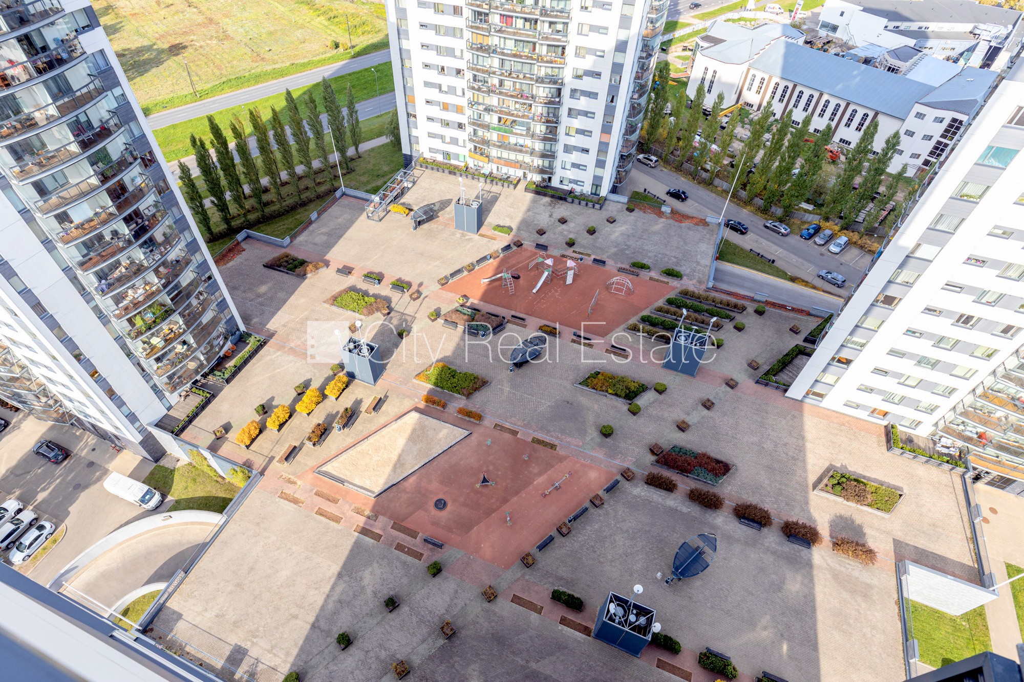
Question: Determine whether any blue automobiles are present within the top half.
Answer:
Yes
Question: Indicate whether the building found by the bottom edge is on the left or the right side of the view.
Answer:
left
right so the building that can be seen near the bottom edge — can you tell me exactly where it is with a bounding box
[0,558,215,682]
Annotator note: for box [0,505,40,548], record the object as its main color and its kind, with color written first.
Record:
white car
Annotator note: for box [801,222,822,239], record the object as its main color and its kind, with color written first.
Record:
blue car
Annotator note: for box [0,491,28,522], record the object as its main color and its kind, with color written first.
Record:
white car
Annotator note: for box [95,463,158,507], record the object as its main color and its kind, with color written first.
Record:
white van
